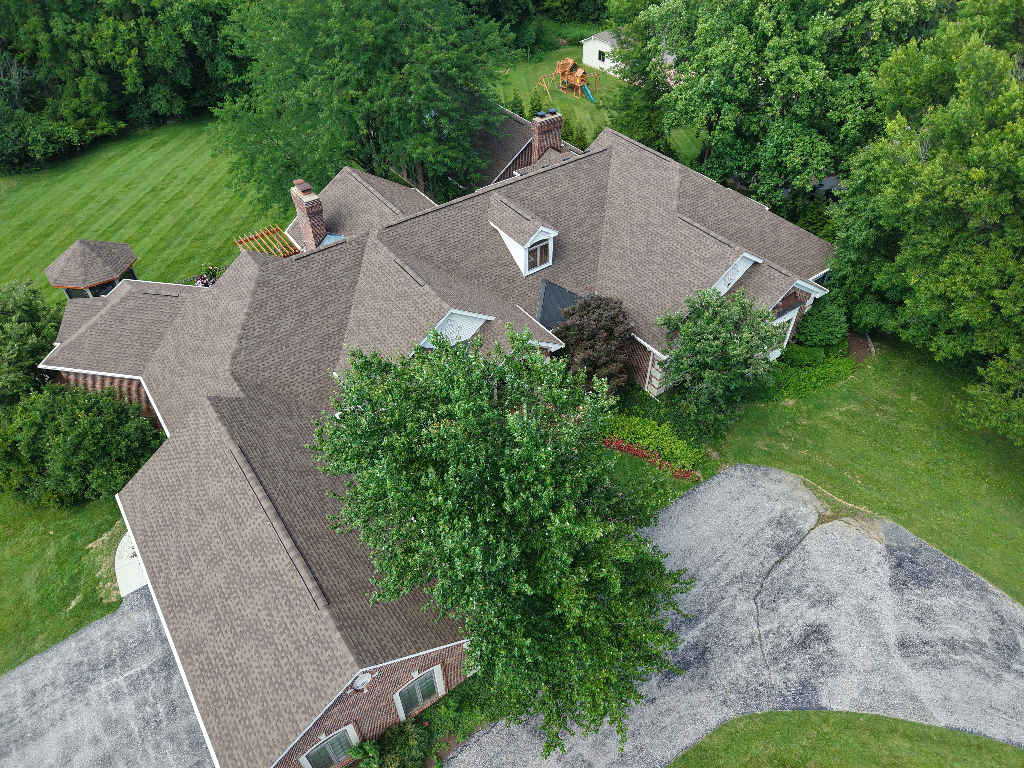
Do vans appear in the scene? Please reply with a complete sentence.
No, there appears to be no van in this shot.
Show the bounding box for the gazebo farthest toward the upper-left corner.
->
[46,239,141,301]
